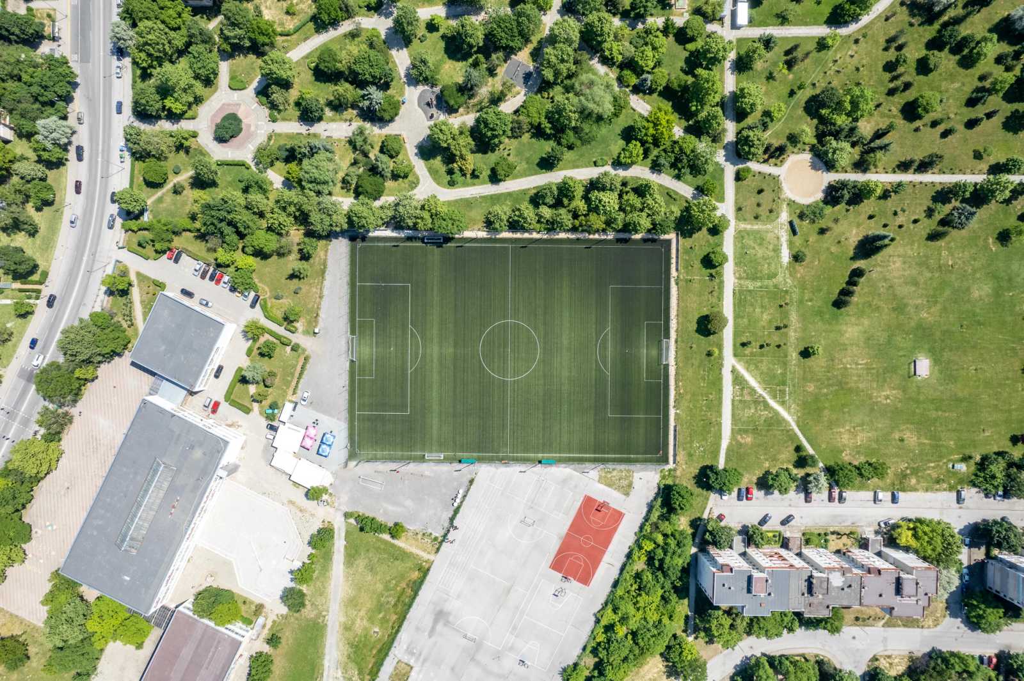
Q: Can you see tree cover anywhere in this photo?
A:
Yes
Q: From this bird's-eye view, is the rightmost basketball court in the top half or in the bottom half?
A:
bottom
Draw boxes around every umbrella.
[305,425,319,439]
[301,436,315,450]
[321,432,335,446]
[317,443,331,457]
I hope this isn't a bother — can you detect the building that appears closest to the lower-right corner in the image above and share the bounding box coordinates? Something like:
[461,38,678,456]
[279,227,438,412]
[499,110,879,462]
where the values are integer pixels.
[987,556,1024,608]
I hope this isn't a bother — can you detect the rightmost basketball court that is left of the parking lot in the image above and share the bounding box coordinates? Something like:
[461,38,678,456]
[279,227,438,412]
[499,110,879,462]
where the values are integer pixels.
[549,495,625,587]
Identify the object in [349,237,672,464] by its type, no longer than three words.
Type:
soccer field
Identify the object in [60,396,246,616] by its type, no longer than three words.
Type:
building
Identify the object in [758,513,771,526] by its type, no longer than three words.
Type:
vehicle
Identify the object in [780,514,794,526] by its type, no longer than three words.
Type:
vehicle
